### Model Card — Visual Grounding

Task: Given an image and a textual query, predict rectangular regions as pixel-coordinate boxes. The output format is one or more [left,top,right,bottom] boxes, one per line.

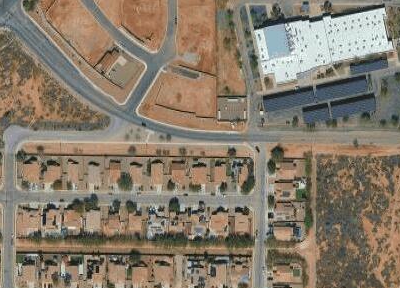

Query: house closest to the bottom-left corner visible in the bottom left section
[20,261,38,286]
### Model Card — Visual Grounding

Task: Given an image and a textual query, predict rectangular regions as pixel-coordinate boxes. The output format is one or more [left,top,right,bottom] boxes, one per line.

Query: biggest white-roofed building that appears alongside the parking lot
[254,8,395,84]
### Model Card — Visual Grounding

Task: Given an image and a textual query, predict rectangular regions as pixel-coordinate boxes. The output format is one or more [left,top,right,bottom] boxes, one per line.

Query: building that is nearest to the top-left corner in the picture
[97,50,124,74]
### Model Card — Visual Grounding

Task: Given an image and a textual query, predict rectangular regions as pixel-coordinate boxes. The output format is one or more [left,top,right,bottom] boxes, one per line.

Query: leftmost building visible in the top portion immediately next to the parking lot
[218,97,248,121]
